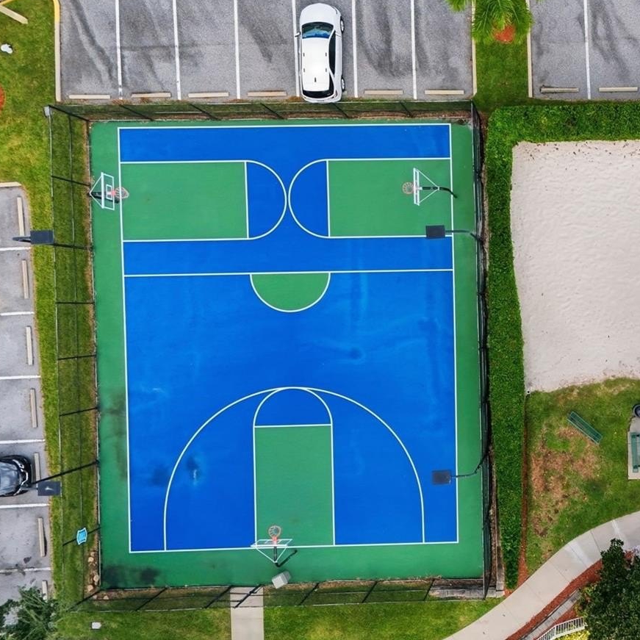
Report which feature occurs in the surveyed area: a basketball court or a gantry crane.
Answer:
basketball court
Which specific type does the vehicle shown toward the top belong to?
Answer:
automobile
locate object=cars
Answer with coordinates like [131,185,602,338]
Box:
[290,3,344,102]
[0,453,34,498]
